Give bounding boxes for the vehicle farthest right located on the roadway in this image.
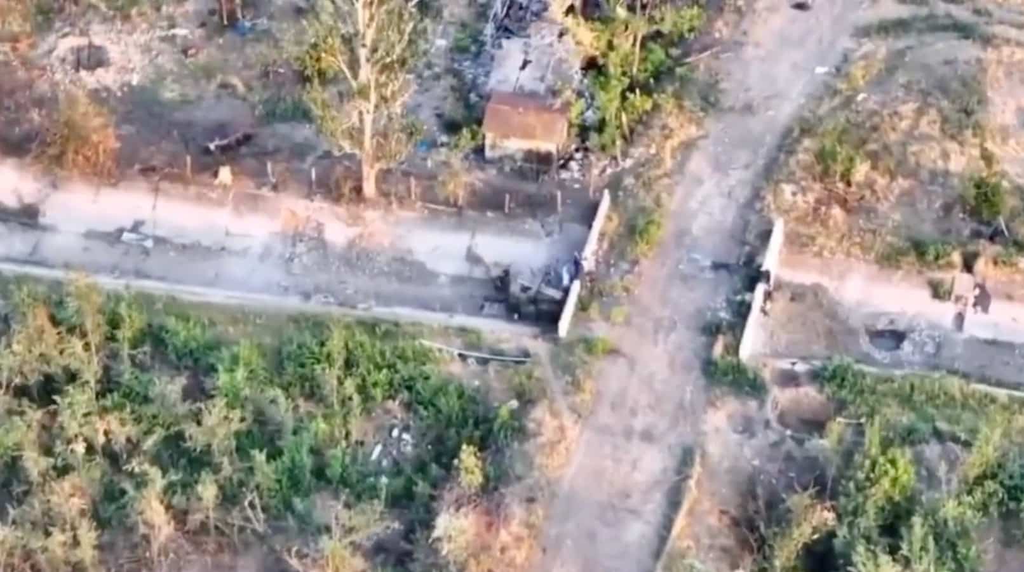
[472,259,573,326]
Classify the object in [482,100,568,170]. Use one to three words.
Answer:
shed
